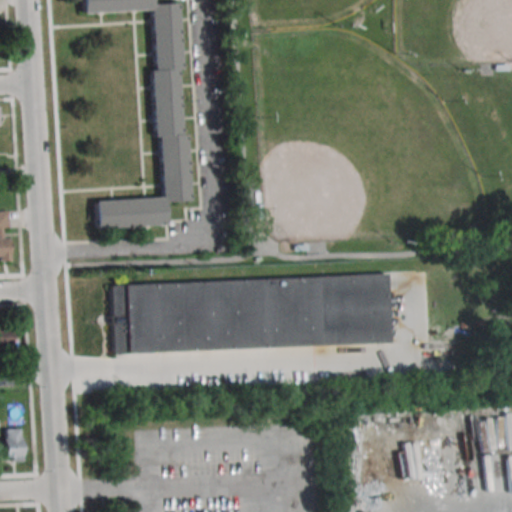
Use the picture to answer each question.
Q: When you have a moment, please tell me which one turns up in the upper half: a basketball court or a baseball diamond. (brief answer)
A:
baseball diamond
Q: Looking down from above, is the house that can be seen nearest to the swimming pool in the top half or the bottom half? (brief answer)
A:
bottom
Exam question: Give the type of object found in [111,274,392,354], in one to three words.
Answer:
building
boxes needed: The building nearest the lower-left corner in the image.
[6,428,28,462]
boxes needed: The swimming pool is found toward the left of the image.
[8,403,25,425]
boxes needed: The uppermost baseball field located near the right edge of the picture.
[396,0,512,66]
